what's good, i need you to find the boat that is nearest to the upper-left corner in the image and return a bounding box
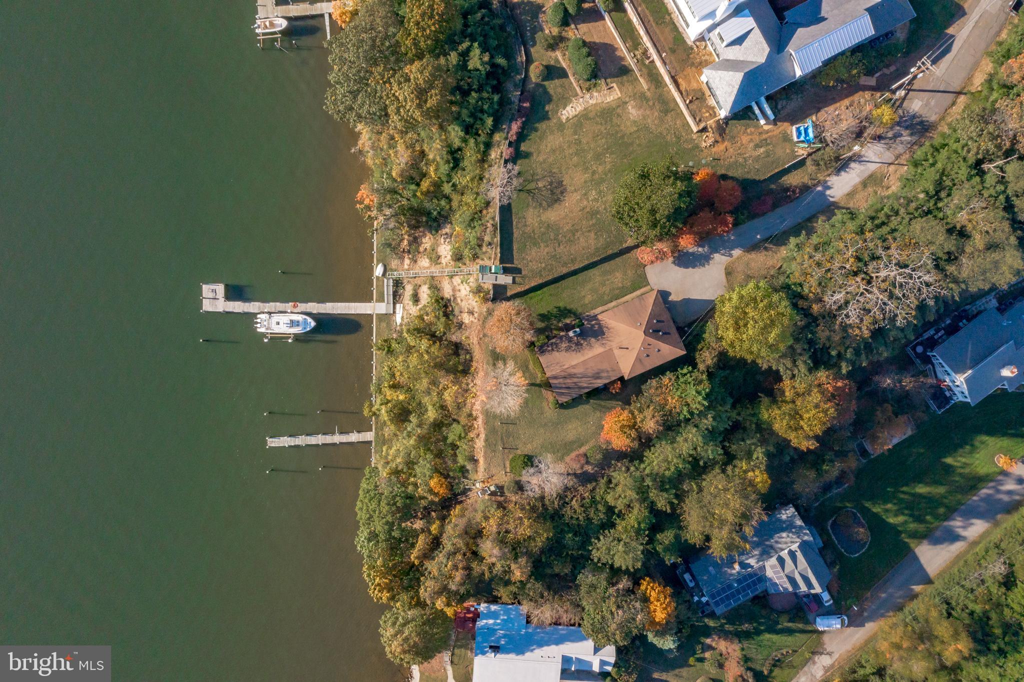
[249,18,287,33]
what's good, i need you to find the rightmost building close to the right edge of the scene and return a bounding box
[900,289,1024,414]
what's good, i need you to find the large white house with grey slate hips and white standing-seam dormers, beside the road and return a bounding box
[680,0,917,119]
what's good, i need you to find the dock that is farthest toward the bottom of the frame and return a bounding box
[267,426,373,447]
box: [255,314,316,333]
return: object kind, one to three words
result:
boat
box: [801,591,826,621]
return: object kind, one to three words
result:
car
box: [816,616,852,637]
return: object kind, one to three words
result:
vehicle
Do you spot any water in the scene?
Yes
